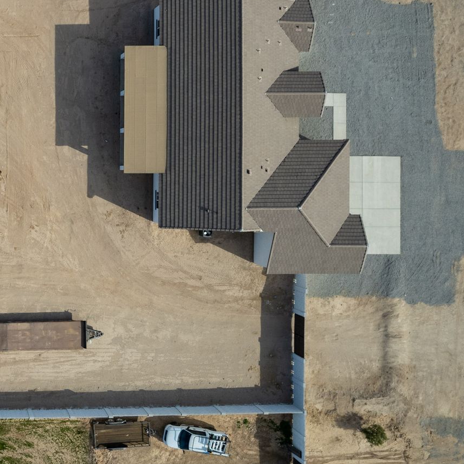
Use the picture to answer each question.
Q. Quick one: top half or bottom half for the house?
top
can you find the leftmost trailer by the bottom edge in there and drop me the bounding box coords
[96,418,159,452]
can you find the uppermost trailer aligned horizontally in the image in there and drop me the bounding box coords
[0,325,103,353]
